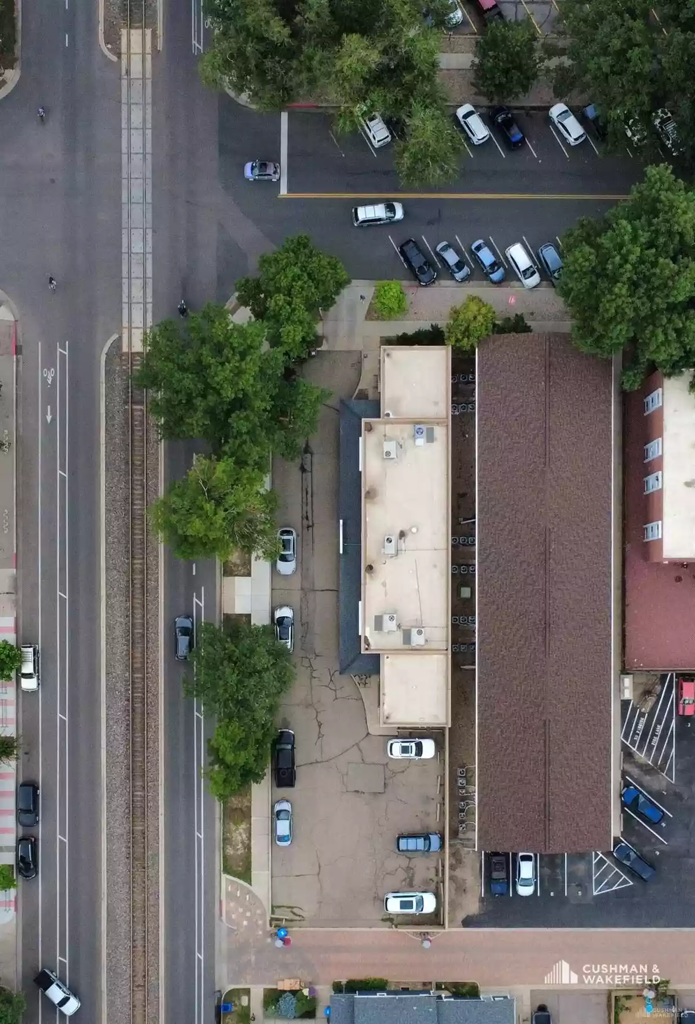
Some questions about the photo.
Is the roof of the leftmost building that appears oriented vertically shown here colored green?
No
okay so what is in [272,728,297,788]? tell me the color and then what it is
black truck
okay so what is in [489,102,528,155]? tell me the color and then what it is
black truck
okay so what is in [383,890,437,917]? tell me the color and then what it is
white car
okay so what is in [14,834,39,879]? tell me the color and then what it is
black car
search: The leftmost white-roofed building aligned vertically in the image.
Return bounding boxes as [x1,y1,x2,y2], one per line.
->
[338,346,451,726]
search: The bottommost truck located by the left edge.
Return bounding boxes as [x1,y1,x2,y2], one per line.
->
[28,967,81,1017]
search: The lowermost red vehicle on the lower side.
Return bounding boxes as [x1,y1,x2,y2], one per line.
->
[674,672,695,720]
